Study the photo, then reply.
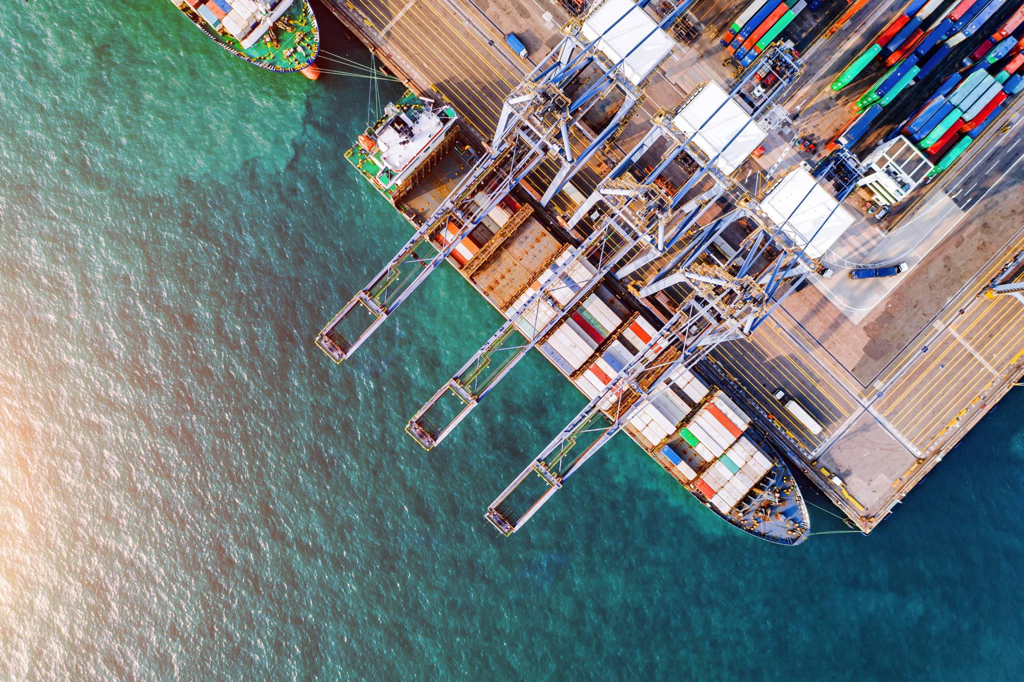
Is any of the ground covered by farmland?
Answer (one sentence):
No, farmland can't be seen anywhere here.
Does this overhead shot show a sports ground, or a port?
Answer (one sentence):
It's a port.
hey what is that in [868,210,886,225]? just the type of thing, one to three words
car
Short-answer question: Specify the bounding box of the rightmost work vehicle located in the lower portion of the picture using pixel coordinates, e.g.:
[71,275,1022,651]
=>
[825,470,846,490]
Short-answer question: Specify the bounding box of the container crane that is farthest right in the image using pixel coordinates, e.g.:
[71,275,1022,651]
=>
[971,249,1024,306]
